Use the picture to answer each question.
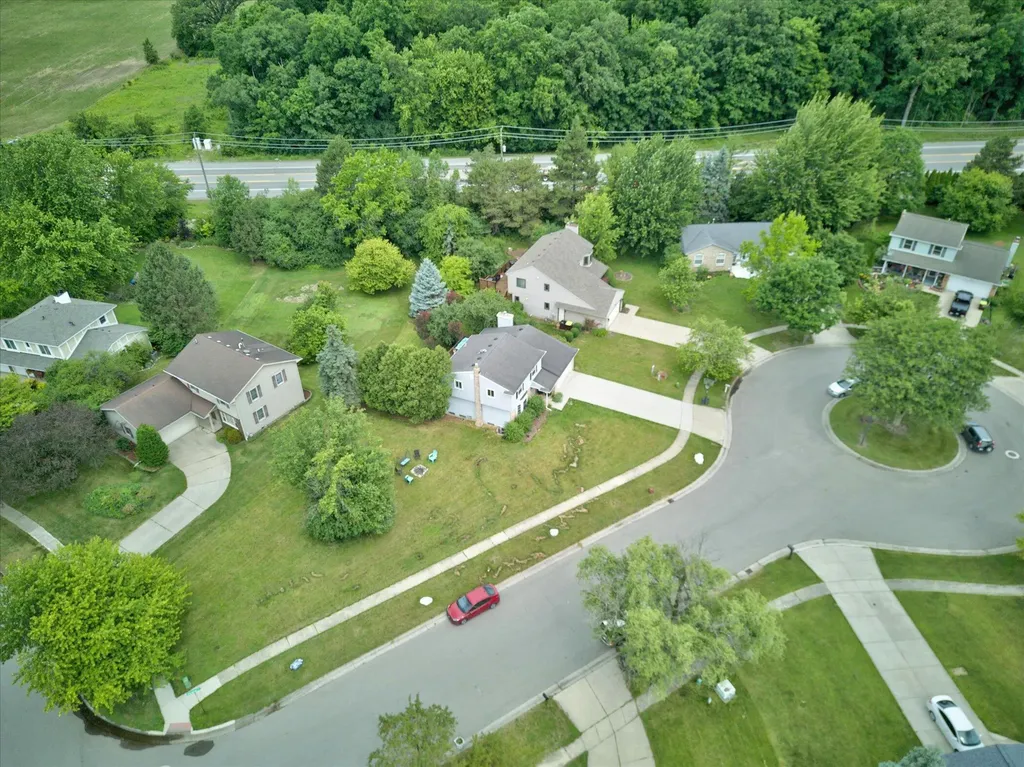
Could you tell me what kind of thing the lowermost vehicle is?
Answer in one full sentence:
I'd say the lowermost vehicle is an automobile.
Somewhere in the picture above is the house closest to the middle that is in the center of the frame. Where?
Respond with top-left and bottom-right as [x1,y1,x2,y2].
[440,308,579,427]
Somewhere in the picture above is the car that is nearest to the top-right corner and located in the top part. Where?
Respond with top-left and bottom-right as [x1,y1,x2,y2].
[950,291,972,317]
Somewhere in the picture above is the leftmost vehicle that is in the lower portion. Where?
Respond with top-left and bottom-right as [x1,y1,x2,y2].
[448,582,504,627]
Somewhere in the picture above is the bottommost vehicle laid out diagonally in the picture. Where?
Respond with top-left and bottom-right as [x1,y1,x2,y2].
[926,689,987,753]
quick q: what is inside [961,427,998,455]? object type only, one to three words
car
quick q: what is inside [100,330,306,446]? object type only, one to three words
house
